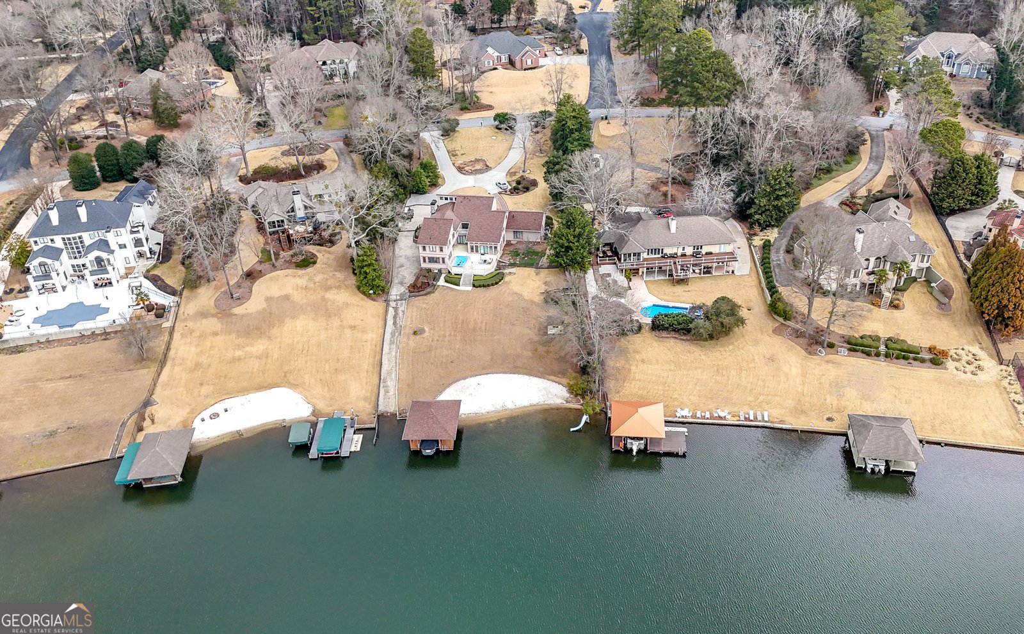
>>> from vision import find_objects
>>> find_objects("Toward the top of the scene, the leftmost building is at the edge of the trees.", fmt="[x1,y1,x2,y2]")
[19,176,167,295]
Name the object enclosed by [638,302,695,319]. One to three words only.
swimming pool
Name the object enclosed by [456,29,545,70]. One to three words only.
house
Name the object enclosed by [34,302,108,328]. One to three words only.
swimming pool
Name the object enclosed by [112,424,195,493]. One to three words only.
building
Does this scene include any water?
Yes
